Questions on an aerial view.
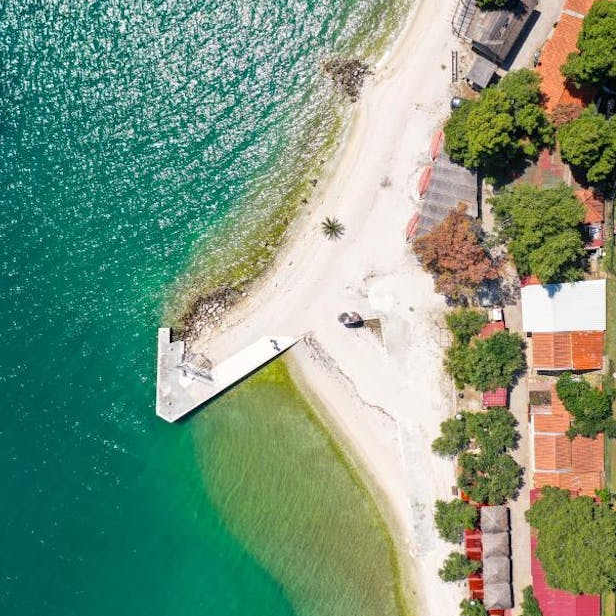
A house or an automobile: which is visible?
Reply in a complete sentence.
The image shows a house.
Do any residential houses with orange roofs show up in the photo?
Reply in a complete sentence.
Yes, there is a residential house with an orange roof in the image.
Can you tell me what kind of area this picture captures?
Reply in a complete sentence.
This image shows a beach.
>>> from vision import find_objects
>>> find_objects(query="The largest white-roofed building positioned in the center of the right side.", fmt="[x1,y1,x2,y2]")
[521,280,606,332]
